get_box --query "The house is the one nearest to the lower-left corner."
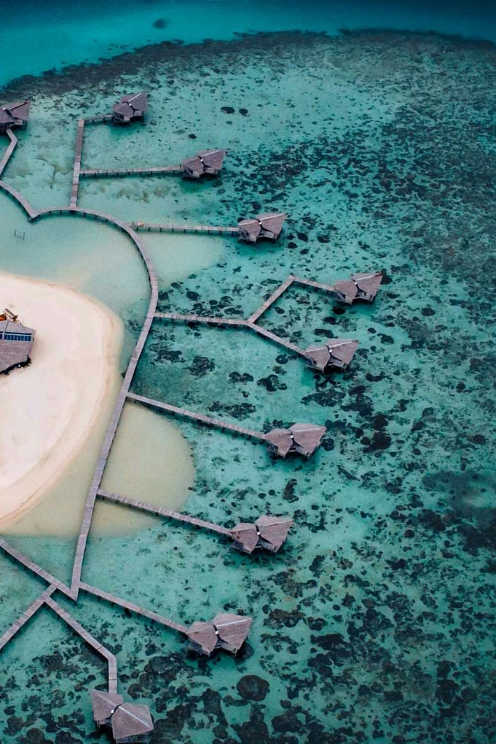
[86,691,153,744]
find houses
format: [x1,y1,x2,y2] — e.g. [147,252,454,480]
[325,273,382,315]
[182,609,252,663]
[86,691,153,744]
[178,151,226,187]
[0,102,32,142]
[233,214,287,250]
[256,421,326,469]
[225,513,293,563]
[110,90,152,130]
[296,337,359,383]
